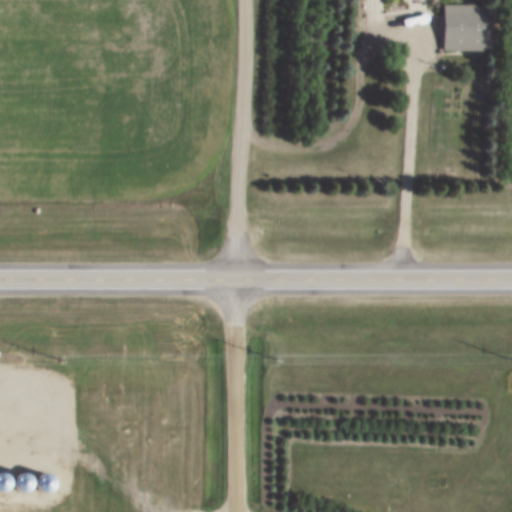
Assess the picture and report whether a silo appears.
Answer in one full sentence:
Yes, there's a silo down there.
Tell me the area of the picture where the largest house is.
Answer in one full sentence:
The largest house sits in the top right section of the image.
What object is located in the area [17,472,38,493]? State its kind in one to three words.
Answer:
silo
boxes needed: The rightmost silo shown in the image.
[39,472,60,493]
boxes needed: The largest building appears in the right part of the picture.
[445,4,488,52]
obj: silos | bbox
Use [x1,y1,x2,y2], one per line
[39,472,60,493]
[0,472,16,493]
[17,472,38,493]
